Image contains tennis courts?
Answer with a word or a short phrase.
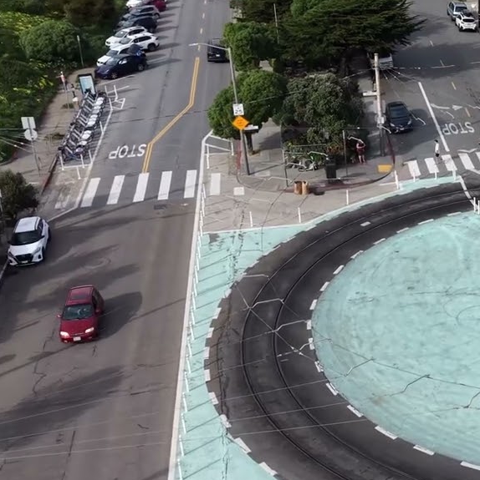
No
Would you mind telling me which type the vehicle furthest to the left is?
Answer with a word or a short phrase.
car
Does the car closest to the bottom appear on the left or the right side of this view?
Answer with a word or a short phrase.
left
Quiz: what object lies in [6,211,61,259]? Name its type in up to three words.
car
